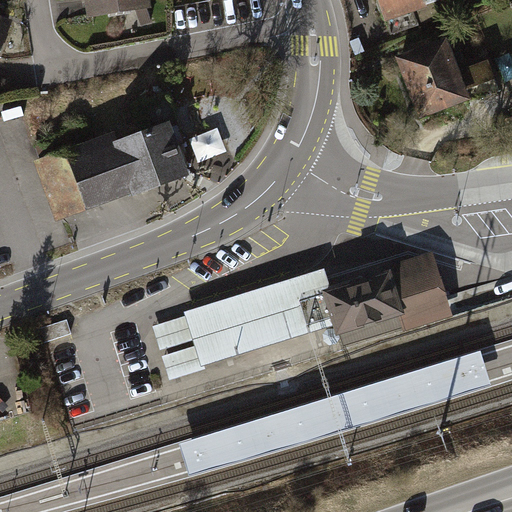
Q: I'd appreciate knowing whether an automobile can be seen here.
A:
Yes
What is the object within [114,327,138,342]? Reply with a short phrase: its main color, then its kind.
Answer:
black car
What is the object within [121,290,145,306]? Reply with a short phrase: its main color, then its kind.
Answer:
black car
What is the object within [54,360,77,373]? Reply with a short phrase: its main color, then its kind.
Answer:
gray vehicle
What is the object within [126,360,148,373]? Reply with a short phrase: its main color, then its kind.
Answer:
white vehicle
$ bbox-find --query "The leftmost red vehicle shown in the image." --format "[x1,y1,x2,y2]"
[67,404,90,418]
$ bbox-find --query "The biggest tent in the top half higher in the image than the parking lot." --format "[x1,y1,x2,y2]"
[192,128,226,162]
